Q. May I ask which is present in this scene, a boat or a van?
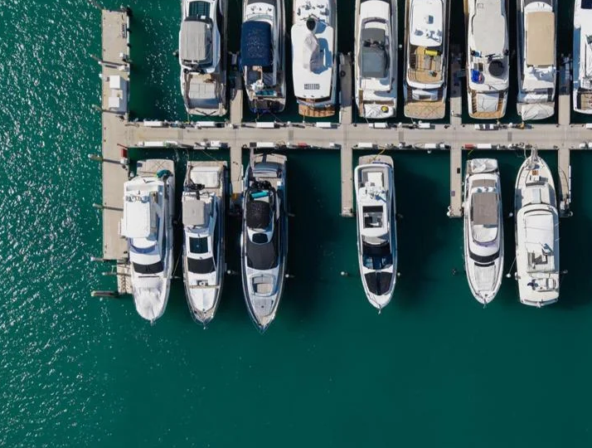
boat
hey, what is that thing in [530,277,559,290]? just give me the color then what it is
white boat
